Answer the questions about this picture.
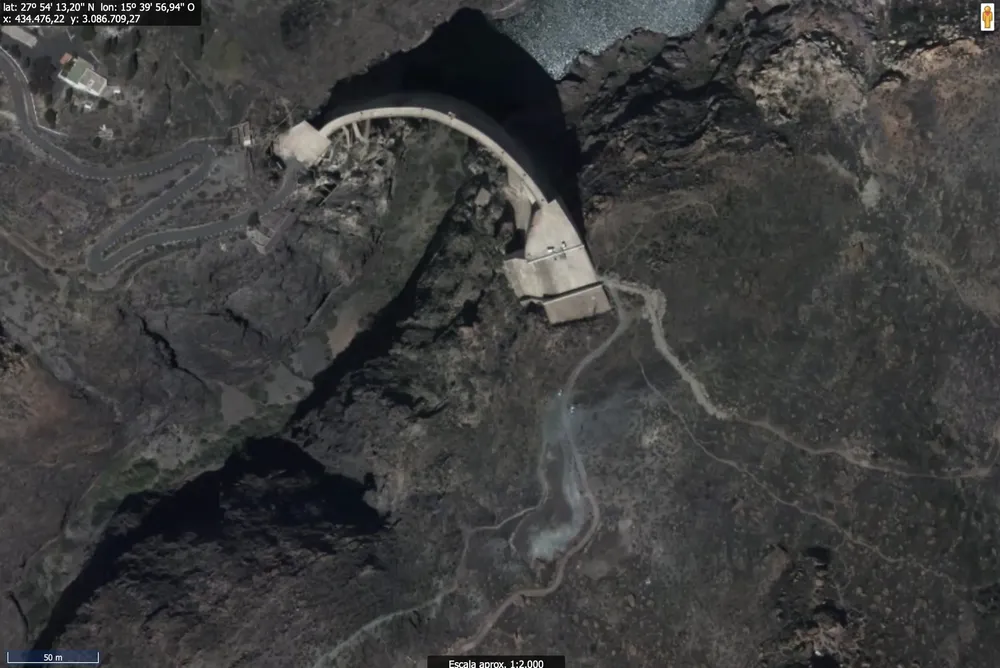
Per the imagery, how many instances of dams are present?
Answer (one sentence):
The photo contains exactly 1 dam.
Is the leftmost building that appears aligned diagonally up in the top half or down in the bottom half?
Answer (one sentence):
The top half of the photo is where the leftmost building that appears aligned diagonally is.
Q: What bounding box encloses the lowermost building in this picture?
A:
[545,286,611,324]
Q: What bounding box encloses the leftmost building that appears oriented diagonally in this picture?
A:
[0,19,38,48]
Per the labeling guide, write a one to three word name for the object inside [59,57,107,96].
house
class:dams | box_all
[317,97,603,304]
